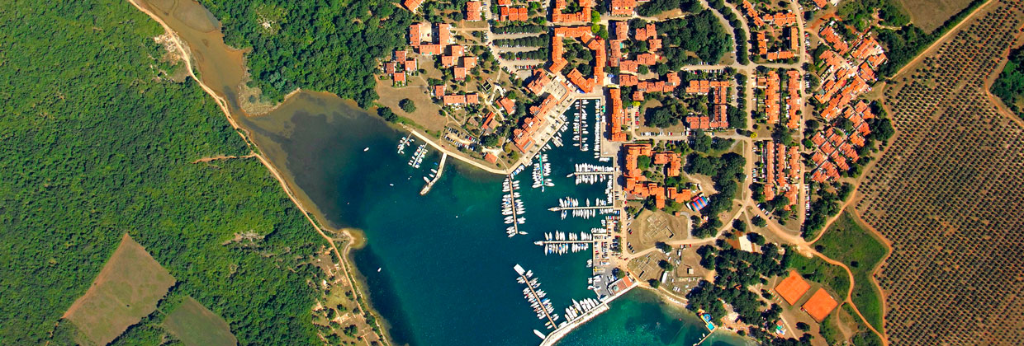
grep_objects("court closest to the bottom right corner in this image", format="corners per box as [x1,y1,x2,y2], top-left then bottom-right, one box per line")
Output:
[801,287,838,324]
